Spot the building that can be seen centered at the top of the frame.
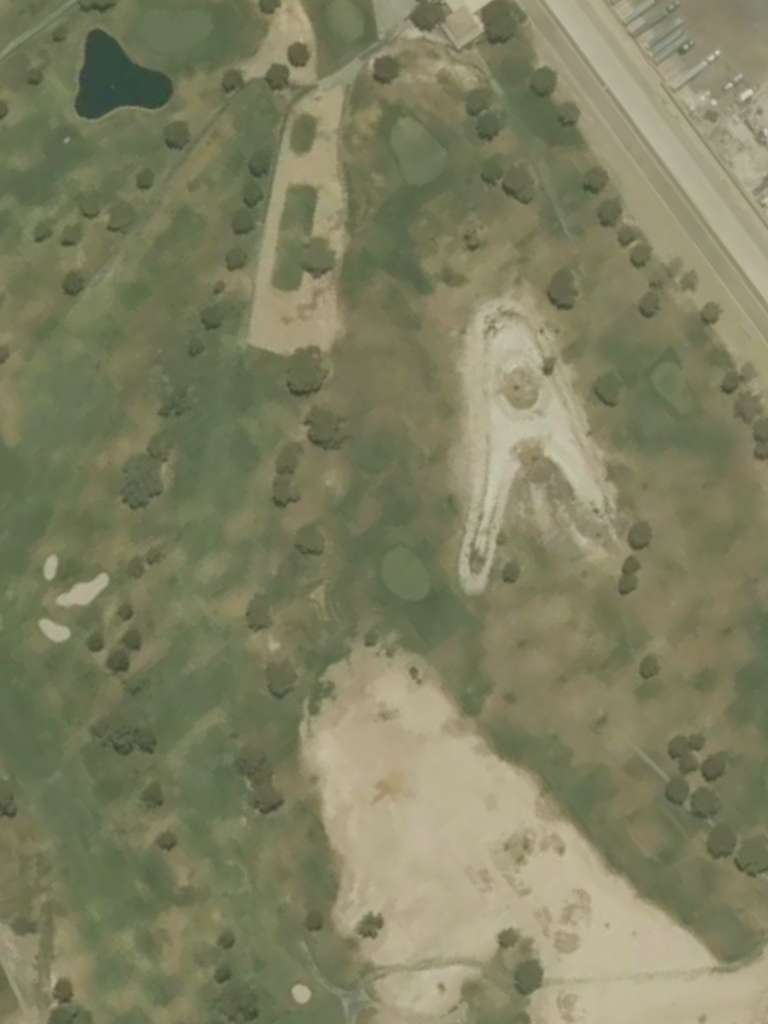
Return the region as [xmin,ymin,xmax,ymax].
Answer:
[441,4,485,49]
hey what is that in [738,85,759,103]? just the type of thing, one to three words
vehicle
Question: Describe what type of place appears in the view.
golf course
